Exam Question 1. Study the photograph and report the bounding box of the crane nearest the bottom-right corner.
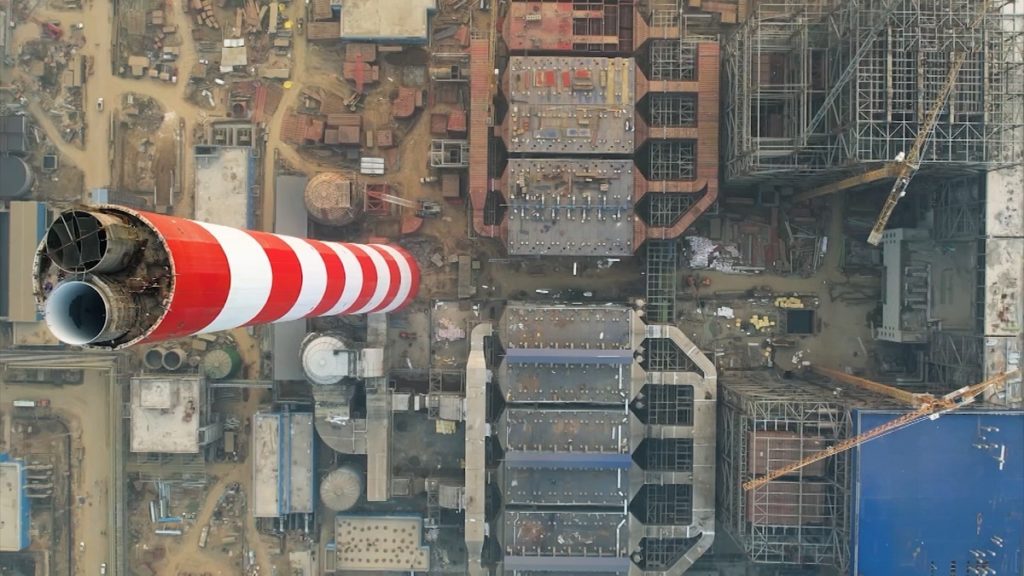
[742,358,1024,491]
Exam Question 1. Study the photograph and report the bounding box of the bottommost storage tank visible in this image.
[319,462,366,510]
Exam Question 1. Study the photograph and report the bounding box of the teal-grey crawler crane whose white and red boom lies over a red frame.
[358,197,439,215]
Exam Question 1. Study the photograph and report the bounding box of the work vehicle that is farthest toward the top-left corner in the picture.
[36,20,59,35]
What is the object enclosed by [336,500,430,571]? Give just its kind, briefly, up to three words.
building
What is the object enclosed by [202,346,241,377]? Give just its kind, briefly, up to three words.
storage tank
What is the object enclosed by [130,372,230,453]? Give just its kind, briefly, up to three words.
building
